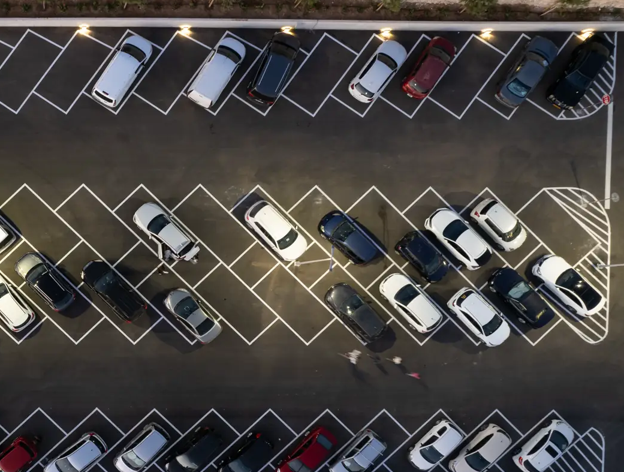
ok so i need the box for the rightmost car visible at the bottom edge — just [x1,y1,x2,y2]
[510,417,575,472]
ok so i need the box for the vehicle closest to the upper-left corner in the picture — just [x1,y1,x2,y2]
[92,36,148,111]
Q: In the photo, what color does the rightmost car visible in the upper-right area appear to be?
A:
black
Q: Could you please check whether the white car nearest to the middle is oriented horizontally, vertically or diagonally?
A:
diagonally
